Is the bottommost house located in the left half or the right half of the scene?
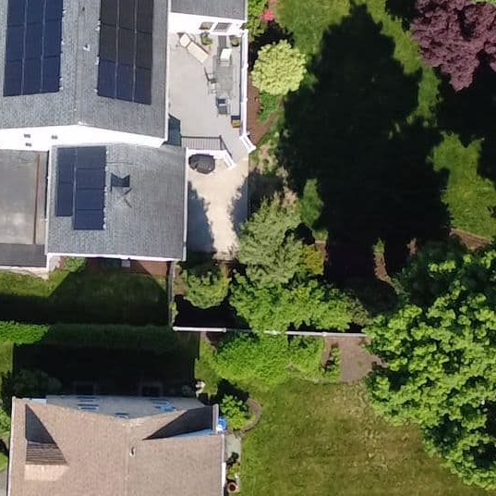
left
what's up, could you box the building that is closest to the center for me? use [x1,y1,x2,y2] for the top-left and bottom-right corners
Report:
[44,138,188,261]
